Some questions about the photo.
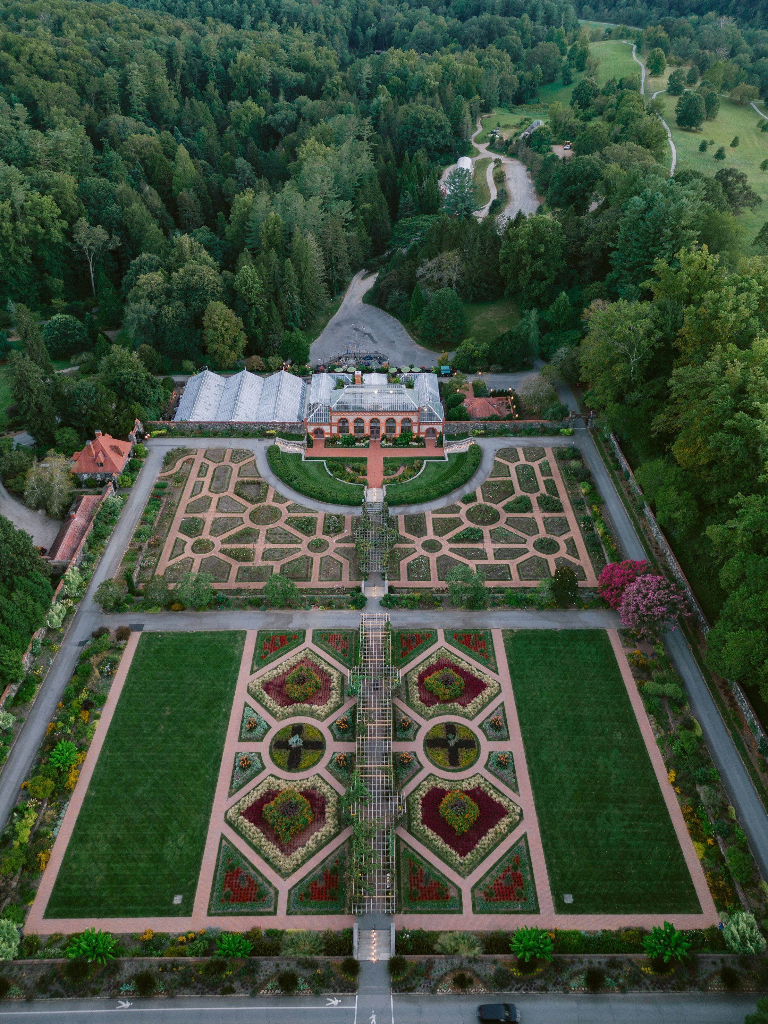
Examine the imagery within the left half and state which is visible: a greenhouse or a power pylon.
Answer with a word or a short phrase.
greenhouse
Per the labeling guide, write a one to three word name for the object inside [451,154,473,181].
house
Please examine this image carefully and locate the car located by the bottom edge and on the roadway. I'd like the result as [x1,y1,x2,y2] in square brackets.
[476,1000,521,1024]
